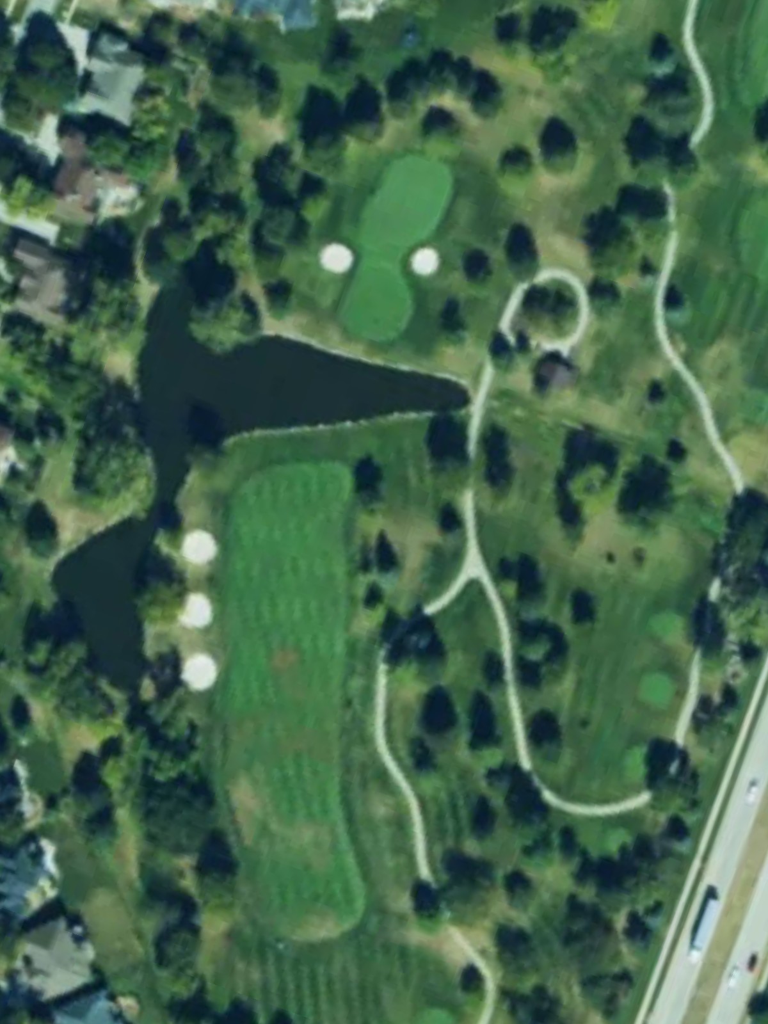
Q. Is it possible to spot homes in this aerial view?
Yes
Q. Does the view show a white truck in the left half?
No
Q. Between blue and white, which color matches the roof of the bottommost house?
blue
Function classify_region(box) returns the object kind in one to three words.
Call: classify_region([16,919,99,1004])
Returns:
house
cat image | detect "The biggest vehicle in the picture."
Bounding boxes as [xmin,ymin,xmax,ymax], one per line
[690,895,720,960]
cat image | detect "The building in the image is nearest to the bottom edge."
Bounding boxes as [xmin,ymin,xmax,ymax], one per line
[46,984,122,1024]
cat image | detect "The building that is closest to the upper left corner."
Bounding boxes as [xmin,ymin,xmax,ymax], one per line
[75,28,147,122]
